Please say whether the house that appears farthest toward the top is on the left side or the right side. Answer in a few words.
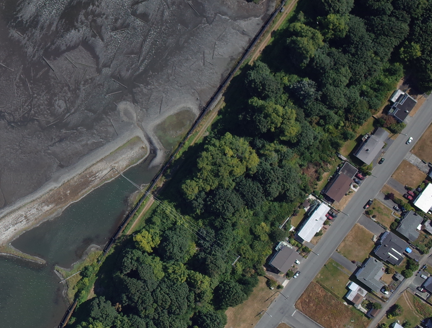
right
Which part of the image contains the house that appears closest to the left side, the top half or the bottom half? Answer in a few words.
bottom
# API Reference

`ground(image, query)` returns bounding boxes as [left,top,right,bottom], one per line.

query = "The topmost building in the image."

[386,94,417,121]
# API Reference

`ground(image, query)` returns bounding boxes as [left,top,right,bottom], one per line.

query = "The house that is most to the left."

[269,242,299,273]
